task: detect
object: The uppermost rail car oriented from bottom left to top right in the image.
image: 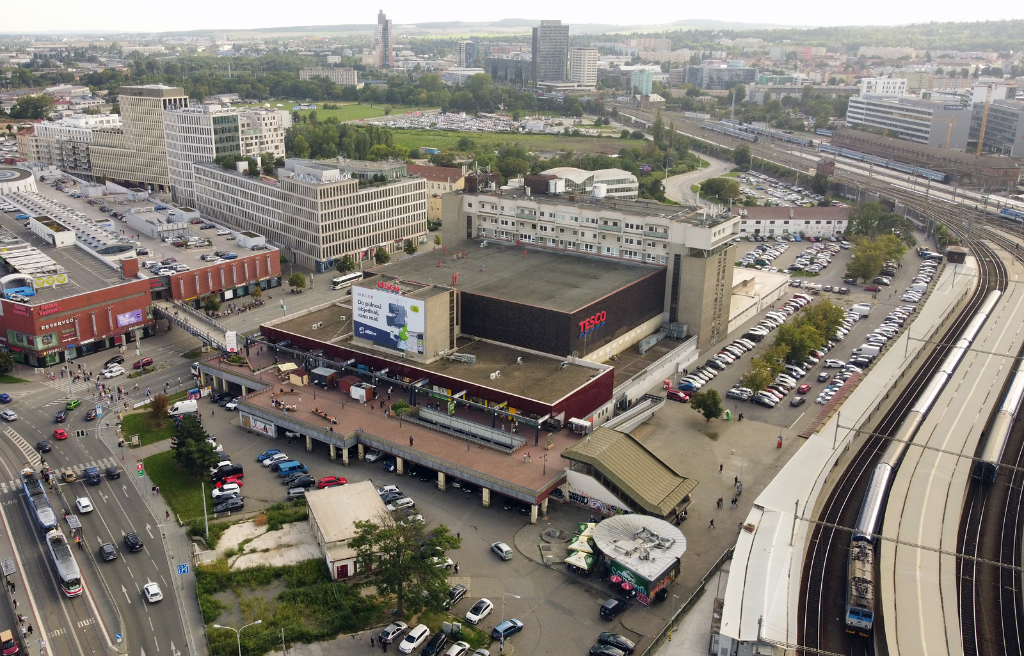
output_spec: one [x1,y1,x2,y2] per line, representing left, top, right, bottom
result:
[960,291,1003,347]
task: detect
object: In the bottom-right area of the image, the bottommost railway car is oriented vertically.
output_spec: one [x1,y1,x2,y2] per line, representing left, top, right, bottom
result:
[845,536,874,649]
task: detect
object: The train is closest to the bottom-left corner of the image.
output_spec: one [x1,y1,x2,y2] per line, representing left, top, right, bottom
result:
[44,526,88,611]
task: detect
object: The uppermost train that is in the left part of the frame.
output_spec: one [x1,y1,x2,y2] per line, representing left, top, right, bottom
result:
[19,463,56,543]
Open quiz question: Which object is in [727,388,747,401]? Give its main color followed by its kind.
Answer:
gray vehicle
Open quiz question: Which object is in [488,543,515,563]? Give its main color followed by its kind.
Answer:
gray car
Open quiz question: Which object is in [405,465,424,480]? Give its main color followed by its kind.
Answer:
black car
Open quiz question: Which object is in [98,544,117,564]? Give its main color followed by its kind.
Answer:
gray car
